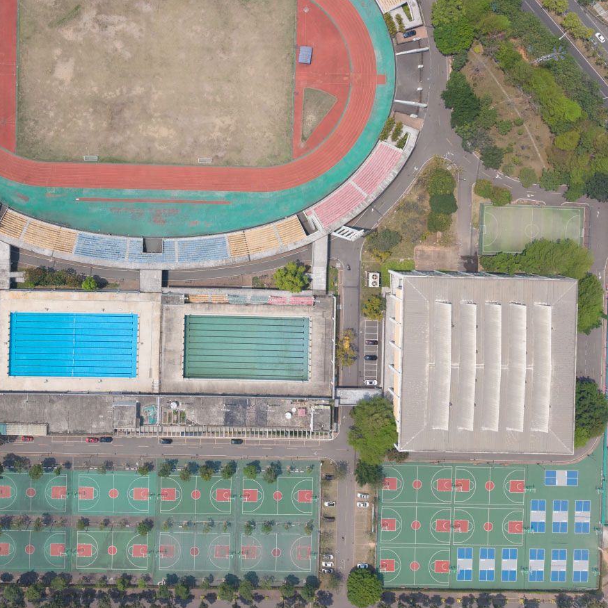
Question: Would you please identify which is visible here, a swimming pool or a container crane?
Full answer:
Visible in the photo is a swimming pool.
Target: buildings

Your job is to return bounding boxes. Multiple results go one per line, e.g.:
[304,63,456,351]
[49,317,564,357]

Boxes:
[0,289,340,440]
[378,268,578,456]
